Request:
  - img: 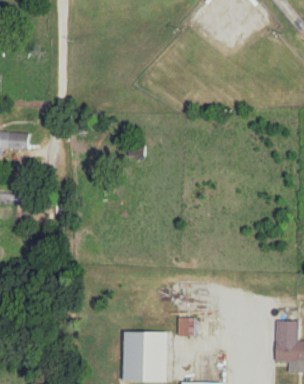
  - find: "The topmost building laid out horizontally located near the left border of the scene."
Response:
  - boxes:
[0,132,44,150]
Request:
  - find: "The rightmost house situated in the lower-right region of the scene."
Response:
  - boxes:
[274,321,304,374]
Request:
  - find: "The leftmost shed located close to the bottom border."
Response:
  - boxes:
[124,332,174,382]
